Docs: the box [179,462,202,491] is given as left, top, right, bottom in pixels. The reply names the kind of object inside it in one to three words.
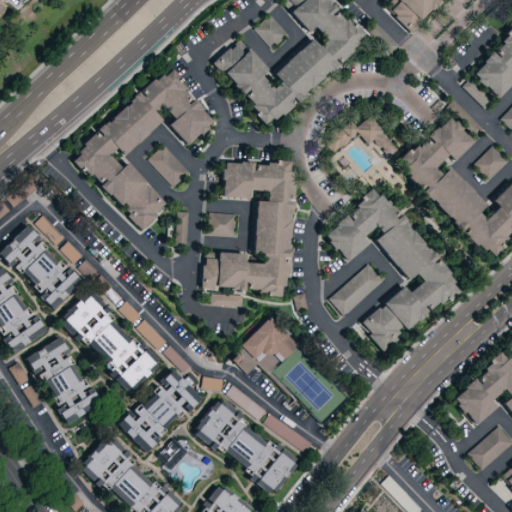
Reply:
swimming pool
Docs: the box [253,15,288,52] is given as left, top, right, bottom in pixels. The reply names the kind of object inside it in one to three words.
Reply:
building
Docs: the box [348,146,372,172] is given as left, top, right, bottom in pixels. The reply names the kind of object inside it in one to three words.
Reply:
swimming pool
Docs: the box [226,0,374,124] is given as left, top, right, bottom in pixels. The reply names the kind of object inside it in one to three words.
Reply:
building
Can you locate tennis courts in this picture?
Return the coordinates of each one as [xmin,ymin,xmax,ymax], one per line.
[272,351,348,422]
